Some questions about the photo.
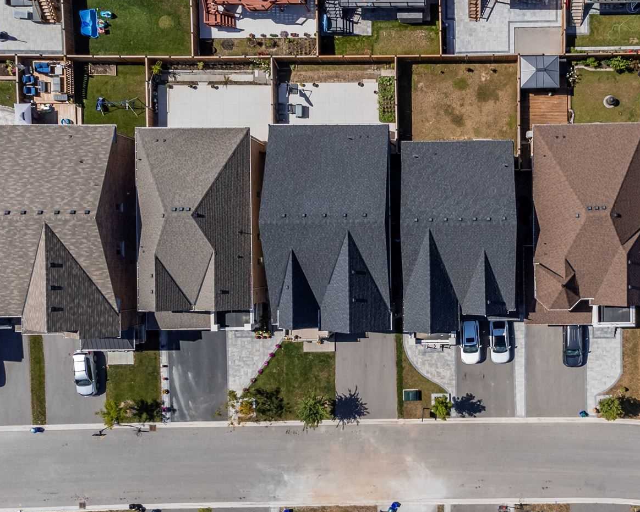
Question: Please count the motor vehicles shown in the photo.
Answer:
4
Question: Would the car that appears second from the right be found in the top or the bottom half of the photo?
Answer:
bottom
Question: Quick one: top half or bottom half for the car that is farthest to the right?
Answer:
bottom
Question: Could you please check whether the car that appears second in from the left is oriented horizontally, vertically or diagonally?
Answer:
vertically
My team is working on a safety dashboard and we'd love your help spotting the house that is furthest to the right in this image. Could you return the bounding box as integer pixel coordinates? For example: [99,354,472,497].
[525,121,640,326]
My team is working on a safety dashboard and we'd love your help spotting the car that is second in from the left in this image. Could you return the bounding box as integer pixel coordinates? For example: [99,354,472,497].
[459,319,482,363]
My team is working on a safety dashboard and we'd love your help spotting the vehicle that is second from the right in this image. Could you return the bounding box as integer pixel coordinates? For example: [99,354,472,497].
[489,319,511,363]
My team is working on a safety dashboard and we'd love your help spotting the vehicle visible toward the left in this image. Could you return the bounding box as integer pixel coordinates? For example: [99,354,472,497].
[72,351,99,396]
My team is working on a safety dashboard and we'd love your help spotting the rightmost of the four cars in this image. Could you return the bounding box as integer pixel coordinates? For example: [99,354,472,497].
[562,325,586,367]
